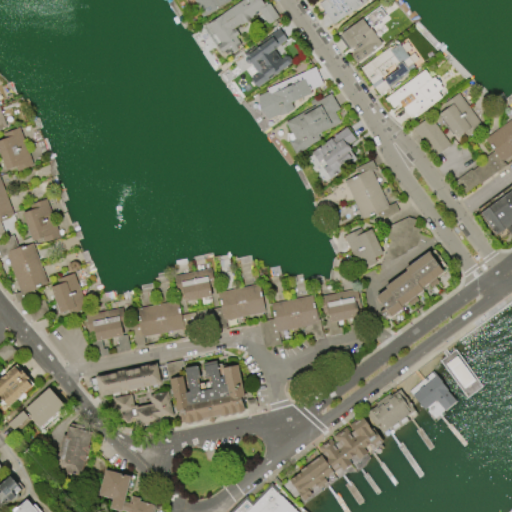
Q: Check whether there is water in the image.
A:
Yes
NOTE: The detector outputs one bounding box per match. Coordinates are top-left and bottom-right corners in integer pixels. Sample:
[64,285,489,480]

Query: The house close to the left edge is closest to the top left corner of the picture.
[0,128,34,174]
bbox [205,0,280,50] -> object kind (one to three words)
building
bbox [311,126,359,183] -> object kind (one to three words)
house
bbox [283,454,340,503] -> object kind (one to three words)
building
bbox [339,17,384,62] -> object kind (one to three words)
house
